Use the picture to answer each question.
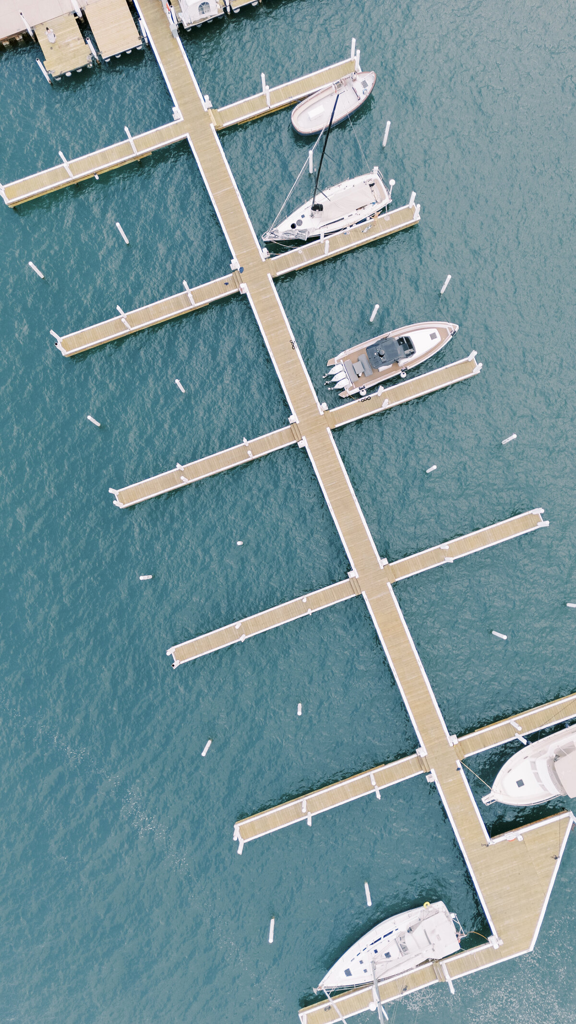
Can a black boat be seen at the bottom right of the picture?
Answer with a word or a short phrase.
No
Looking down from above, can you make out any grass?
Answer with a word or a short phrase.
No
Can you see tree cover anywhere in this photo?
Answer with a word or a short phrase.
No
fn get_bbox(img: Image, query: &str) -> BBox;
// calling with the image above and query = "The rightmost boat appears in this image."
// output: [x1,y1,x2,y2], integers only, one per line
[481,721,576,807]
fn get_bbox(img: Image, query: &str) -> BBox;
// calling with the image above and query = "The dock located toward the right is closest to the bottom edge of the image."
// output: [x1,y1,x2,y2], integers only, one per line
[299,961,447,1024]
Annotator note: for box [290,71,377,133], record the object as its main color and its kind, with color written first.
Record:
white boat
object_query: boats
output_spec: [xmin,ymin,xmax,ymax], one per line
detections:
[260,91,397,244]
[290,71,377,133]
[325,323,460,398]
[310,899,465,1024]
[481,721,576,807]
